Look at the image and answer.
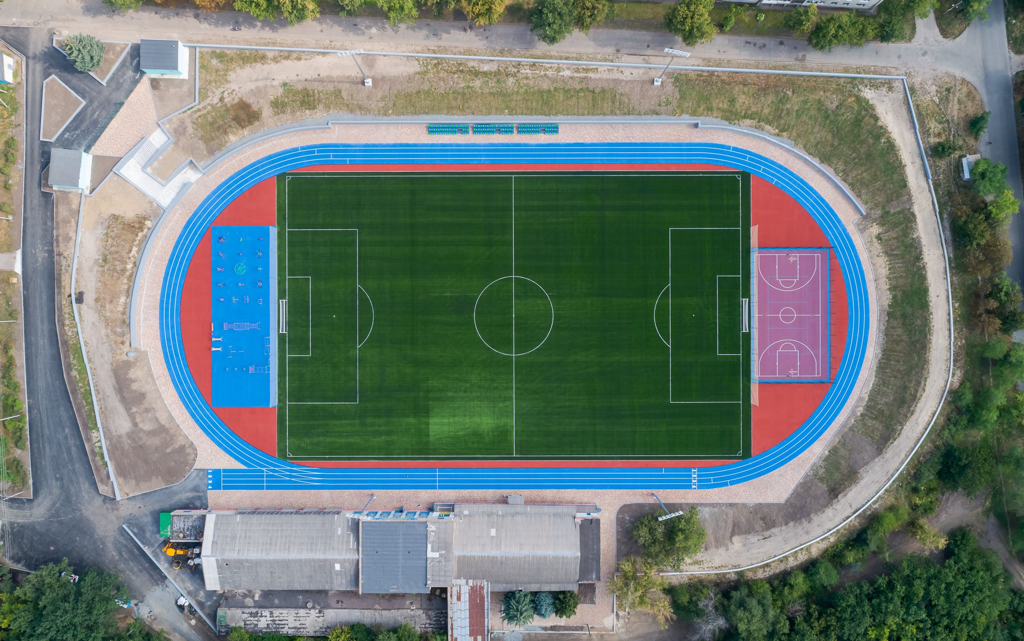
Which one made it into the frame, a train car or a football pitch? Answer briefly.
football pitch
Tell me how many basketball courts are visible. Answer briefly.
1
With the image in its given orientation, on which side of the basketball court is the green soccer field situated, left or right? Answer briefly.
to the left of it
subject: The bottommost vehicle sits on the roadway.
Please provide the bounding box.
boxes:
[162,542,192,558]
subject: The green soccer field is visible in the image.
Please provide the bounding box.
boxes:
[276,171,752,461]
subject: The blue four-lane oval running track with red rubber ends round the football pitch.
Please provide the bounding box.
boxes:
[159,143,869,490]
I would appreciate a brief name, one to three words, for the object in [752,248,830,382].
basketball court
